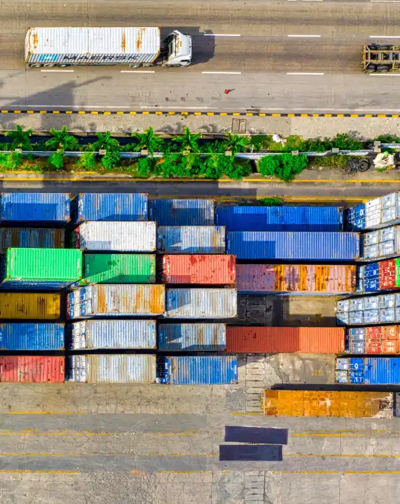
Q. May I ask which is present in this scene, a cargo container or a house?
cargo container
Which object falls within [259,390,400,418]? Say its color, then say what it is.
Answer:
orange truck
